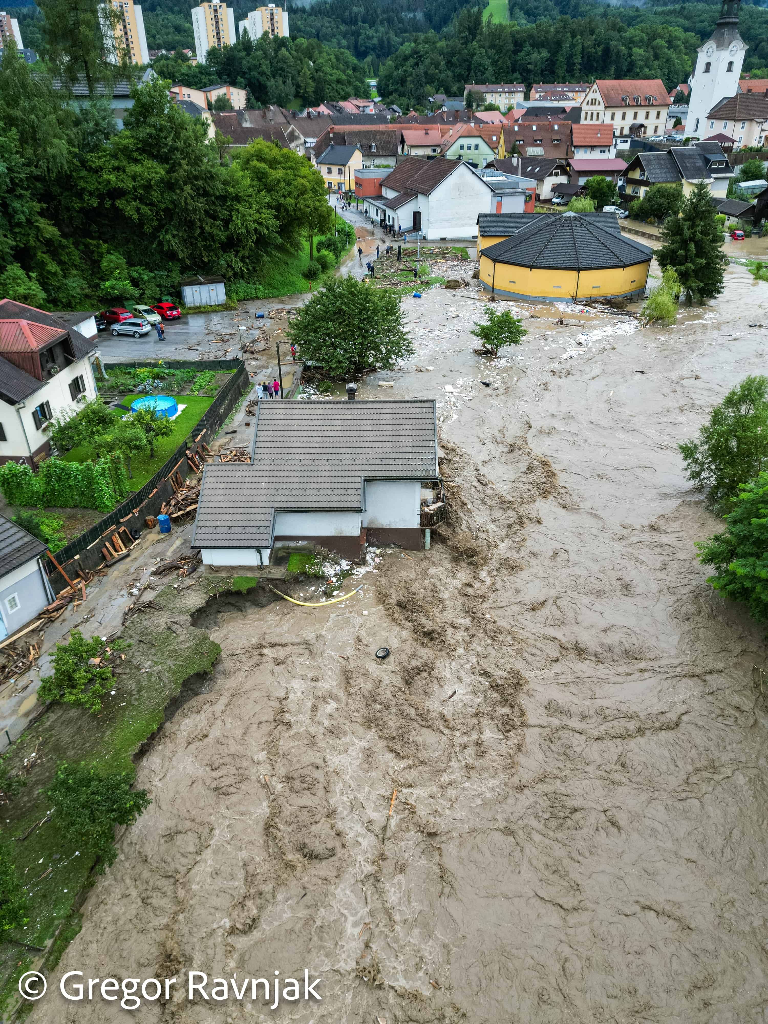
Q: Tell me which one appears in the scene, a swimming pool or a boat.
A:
swimming pool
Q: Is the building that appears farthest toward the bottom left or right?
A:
left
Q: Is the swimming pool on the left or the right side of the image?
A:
left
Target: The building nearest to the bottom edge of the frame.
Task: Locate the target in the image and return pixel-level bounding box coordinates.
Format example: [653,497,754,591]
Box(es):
[0,516,52,640]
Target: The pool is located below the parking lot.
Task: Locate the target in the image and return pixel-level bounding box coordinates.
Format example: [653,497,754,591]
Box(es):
[127,391,180,422]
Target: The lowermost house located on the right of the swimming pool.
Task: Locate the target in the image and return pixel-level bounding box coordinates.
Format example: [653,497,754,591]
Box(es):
[189,377,448,568]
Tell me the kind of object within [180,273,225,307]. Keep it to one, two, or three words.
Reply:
shed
